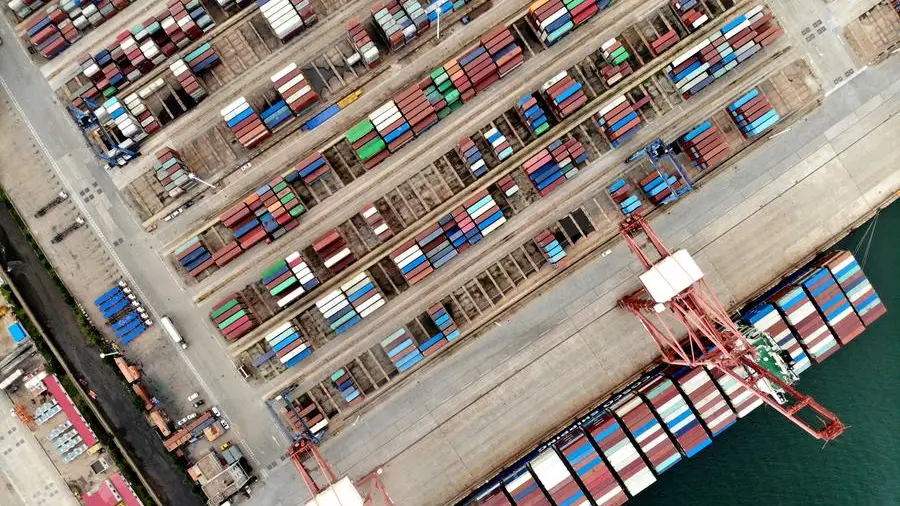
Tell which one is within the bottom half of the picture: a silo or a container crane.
container crane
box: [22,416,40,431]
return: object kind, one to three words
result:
work vehicle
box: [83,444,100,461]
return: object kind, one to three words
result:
vehicle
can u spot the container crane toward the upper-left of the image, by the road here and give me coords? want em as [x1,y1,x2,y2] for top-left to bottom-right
[68,98,142,167]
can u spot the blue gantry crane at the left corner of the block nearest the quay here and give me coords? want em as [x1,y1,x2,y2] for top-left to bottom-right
[268,382,334,445]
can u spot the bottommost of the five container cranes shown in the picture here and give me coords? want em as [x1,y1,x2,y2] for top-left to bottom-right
[286,436,397,506]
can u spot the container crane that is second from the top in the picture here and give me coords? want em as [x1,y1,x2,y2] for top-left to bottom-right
[626,141,694,210]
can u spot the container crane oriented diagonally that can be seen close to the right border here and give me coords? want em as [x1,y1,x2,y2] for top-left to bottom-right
[613,213,856,446]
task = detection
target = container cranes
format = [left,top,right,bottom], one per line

[268,382,334,445]
[286,436,397,506]
[68,98,142,167]
[626,141,694,210]
[613,213,856,446]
